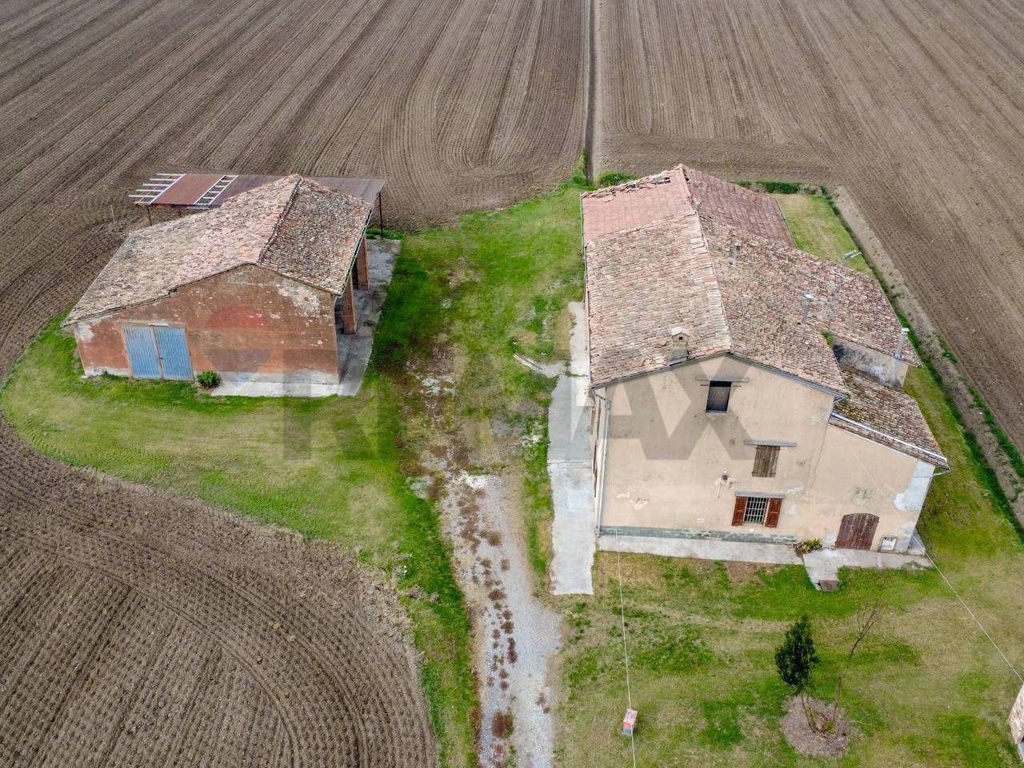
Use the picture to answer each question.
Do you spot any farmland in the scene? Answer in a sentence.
Yes, farmland can be seen from above here.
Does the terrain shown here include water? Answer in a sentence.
No, the picture contains no water.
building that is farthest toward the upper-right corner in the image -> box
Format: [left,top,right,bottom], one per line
[577,164,952,551]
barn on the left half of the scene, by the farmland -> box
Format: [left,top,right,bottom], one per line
[59,172,373,382]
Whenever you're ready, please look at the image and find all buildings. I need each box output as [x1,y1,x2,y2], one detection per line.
[577,164,952,551]
[1008,682,1024,768]
[59,172,373,382]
